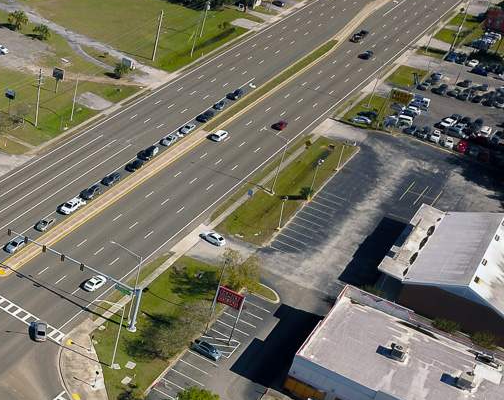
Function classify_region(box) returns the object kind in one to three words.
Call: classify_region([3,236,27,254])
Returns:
car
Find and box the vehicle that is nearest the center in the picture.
[199,232,229,247]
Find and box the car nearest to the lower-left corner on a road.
[33,320,48,344]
